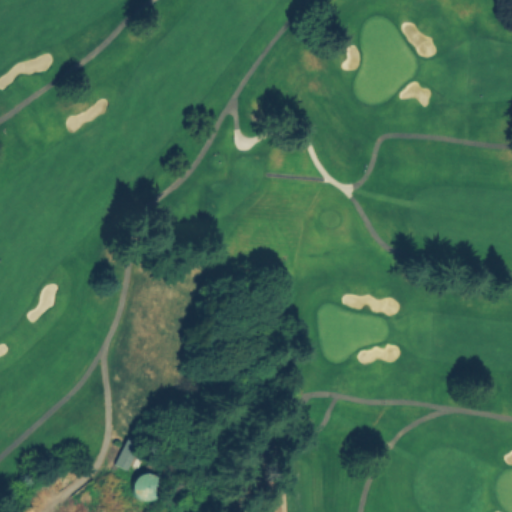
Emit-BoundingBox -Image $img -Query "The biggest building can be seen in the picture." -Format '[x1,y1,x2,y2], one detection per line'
[115,442,136,472]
